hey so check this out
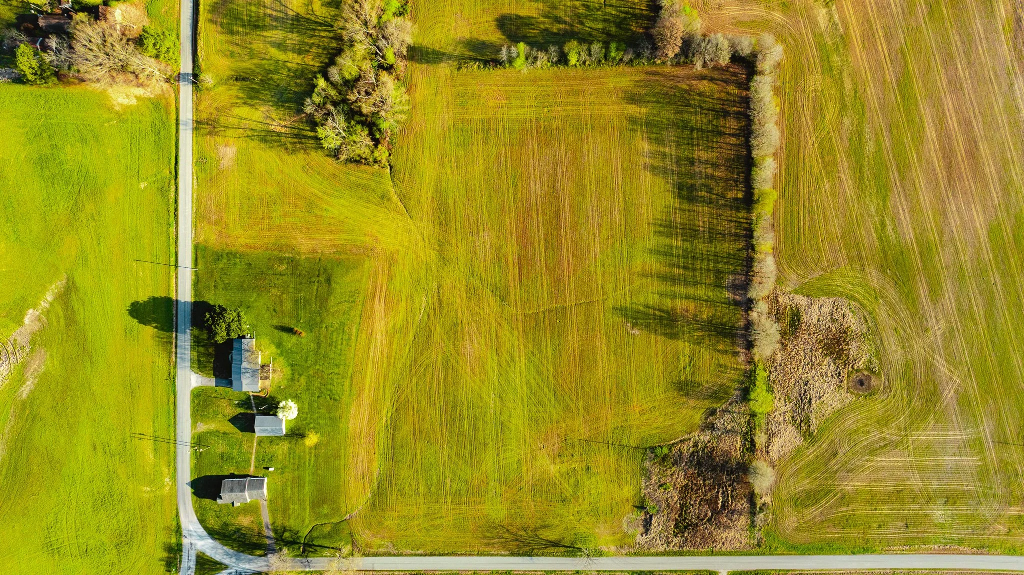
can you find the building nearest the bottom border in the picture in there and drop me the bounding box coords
[219,476,269,507]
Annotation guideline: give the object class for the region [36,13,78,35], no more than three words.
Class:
shed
